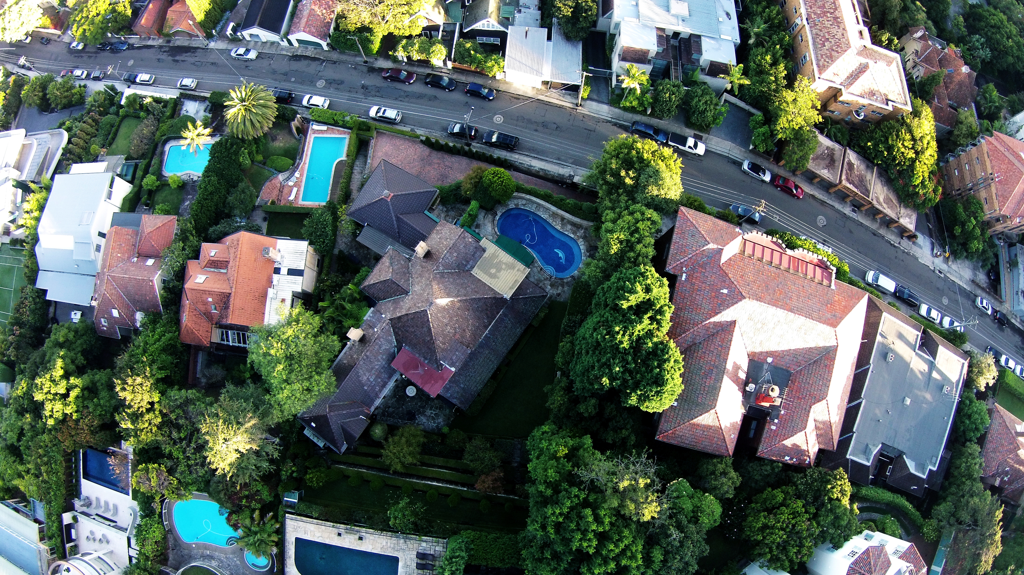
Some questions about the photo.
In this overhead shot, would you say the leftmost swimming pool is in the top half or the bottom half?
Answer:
bottom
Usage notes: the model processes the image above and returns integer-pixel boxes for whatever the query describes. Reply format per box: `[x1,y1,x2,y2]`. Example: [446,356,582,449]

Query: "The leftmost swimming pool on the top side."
[160,138,218,177]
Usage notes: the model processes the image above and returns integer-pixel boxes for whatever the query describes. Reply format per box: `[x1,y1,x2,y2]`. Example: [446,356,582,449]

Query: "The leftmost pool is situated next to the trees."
[81,446,132,499]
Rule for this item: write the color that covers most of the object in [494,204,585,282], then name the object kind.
blue swimming pool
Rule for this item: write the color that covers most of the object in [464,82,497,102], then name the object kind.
blue car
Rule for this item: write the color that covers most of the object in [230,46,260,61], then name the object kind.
white car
